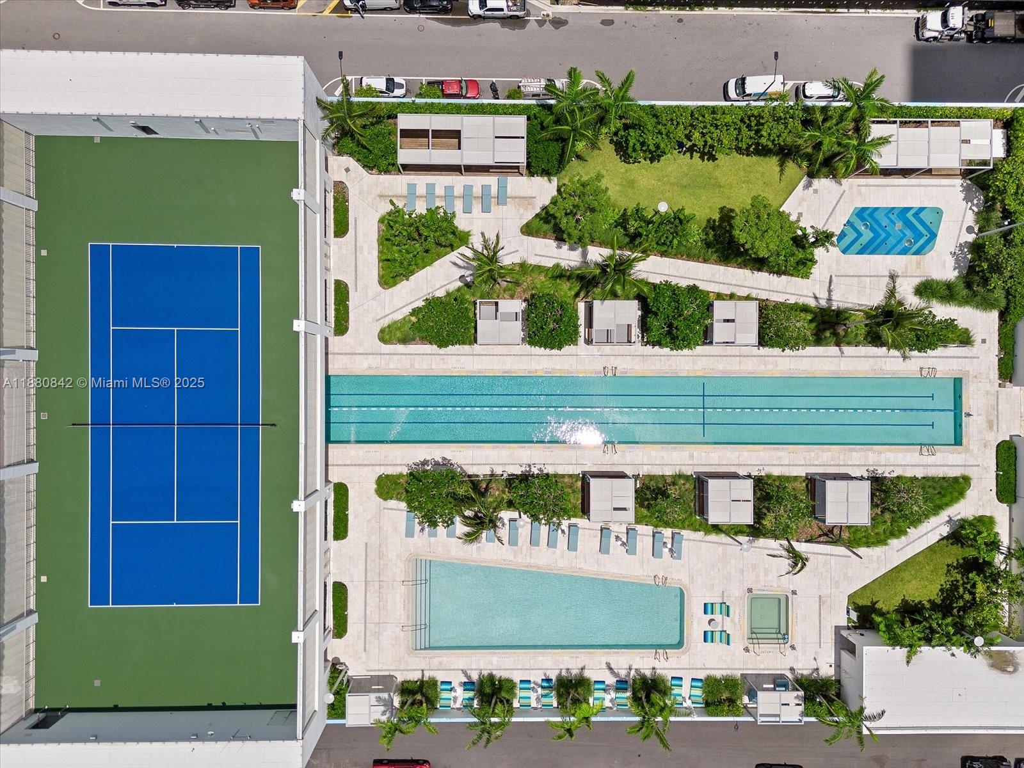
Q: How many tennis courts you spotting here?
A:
1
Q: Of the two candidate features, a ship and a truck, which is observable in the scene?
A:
truck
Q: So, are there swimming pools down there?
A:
Yes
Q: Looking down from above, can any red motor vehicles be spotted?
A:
Yes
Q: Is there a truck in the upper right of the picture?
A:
Yes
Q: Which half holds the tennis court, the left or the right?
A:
left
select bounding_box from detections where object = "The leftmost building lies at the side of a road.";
[0,49,336,768]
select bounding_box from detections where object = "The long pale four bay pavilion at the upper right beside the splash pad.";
[846,119,993,181]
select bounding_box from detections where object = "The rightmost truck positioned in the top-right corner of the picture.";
[916,3,1024,44]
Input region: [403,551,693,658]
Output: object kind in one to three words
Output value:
swimming pool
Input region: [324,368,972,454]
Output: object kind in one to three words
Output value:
swimming pool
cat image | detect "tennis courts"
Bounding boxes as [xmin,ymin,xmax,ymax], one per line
[34,136,298,711]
